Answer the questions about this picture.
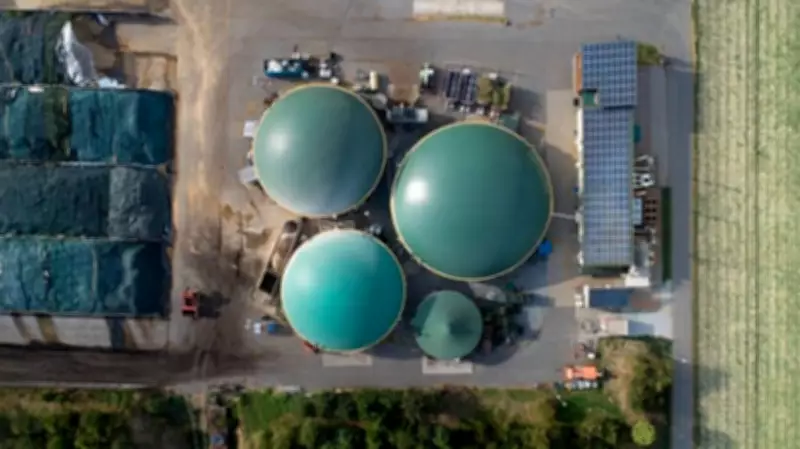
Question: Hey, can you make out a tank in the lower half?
Yes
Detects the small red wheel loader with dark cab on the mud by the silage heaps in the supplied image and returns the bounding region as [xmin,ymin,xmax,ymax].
[183,283,200,318]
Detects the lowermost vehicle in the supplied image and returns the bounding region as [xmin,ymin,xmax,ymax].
[561,363,603,380]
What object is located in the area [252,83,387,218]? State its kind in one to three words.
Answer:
storage tank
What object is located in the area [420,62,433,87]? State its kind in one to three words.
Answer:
vehicle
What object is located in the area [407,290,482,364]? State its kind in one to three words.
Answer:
storage tank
